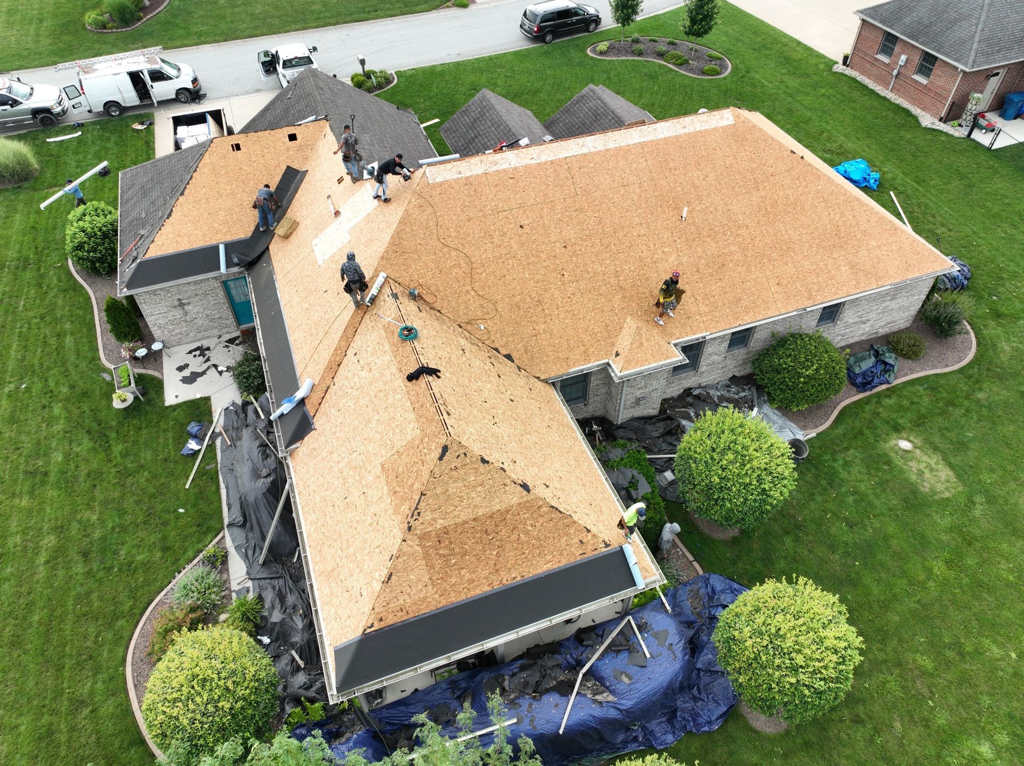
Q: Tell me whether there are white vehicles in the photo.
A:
Yes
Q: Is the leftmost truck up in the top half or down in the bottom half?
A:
top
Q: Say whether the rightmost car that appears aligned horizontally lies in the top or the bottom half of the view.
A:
top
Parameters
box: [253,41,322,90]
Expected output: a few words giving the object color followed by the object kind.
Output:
white truck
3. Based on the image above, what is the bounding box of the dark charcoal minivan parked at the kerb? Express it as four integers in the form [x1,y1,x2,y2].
[518,0,608,41]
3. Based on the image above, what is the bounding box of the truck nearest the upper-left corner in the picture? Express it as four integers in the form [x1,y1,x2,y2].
[0,69,74,128]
